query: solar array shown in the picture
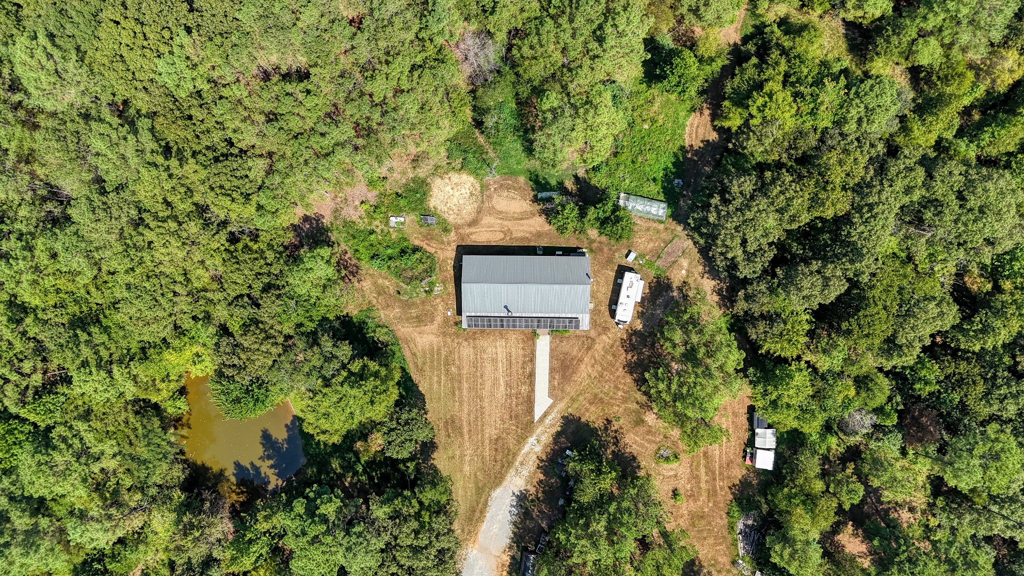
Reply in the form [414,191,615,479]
[467,318,580,330]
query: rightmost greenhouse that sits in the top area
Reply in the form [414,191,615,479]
[618,192,669,222]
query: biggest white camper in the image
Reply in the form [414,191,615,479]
[614,271,643,328]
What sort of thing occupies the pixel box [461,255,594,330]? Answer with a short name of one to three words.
building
